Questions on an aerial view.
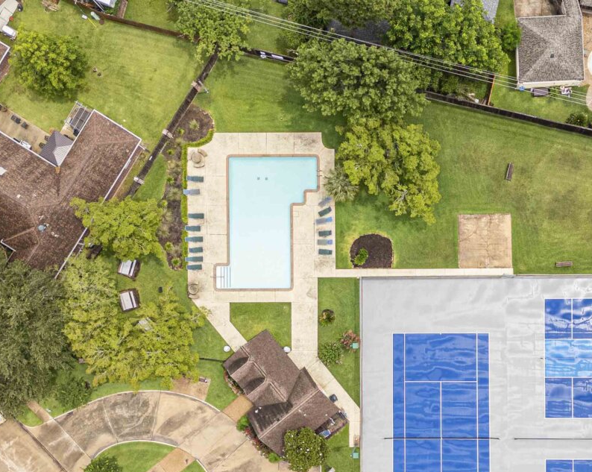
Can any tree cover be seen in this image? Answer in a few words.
Yes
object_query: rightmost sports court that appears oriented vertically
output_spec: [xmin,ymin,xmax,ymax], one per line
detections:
[545,300,592,418]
